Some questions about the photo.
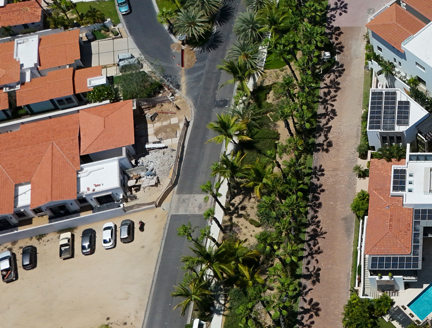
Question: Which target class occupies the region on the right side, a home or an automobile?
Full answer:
It is a home that can be seen on the right side.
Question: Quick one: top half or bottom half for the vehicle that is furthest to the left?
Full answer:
The vehicle that is furthest to the left is in the bottom half of the image.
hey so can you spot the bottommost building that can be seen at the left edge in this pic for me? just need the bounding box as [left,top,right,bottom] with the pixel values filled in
[0,99,139,228]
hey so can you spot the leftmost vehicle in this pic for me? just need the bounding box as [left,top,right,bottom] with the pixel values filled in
[0,250,20,287]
